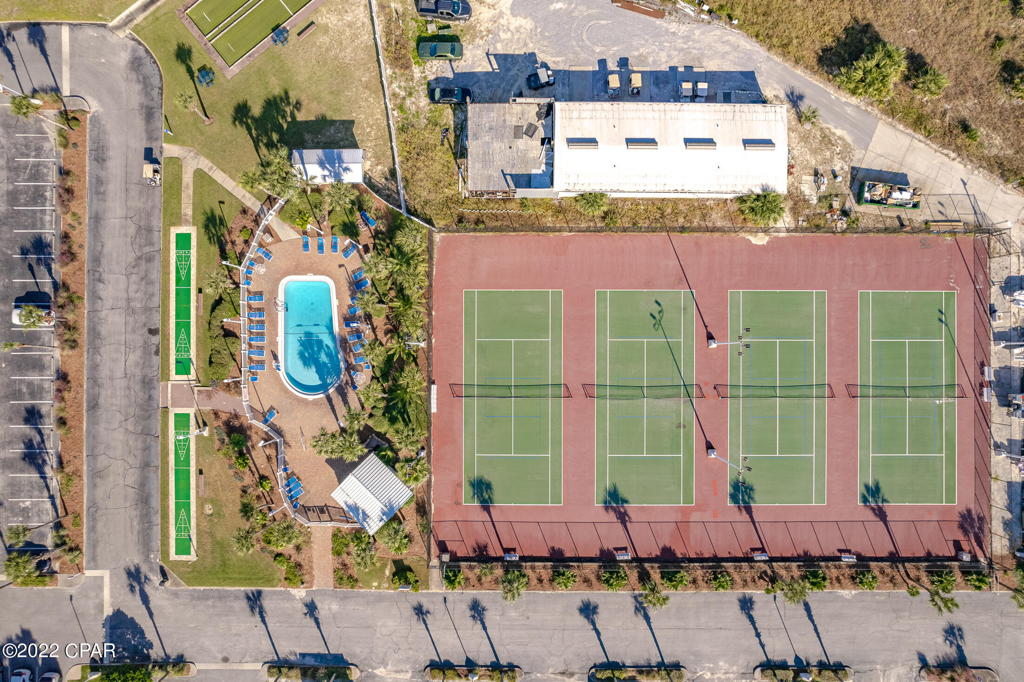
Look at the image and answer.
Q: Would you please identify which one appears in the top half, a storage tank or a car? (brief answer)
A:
car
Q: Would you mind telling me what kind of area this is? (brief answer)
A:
sports ground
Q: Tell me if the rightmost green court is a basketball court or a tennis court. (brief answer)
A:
tennis court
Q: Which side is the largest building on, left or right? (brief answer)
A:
right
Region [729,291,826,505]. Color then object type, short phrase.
green tennis court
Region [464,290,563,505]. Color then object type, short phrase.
green tennis court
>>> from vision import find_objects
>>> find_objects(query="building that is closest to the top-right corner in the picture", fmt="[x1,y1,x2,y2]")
[553,101,791,197]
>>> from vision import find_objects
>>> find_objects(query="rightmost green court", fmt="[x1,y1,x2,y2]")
[859,291,956,504]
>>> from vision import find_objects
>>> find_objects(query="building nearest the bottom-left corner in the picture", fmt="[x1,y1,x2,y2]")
[331,452,413,535]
